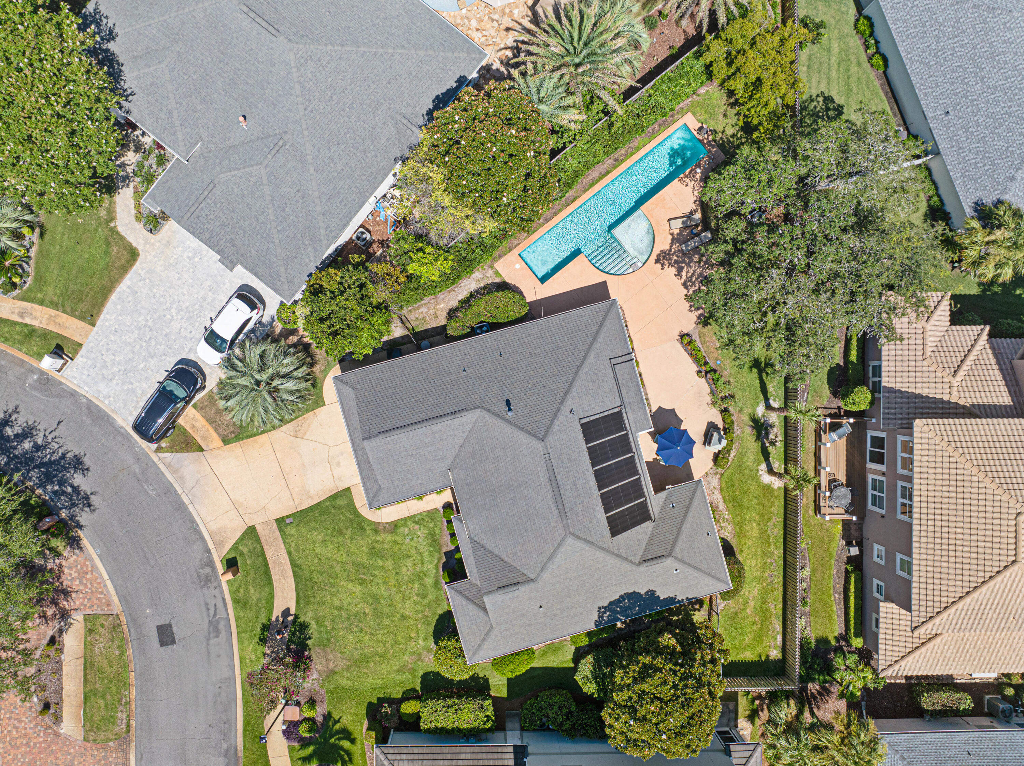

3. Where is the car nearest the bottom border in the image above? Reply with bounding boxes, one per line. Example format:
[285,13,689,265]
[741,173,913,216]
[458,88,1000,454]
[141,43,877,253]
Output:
[126,361,209,450]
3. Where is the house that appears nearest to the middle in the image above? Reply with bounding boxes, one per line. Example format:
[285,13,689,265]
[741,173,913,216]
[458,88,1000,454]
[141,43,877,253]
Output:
[329,296,734,667]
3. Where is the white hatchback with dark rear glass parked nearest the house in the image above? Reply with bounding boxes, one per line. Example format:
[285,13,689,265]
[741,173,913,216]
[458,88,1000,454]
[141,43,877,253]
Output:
[192,287,267,369]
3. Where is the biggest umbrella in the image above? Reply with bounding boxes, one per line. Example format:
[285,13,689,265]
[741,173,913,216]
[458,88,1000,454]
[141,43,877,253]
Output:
[657,427,696,467]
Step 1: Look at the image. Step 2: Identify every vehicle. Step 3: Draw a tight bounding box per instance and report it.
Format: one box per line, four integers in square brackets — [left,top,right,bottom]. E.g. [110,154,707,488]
[192,287,267,369]
[126,361,209,450]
